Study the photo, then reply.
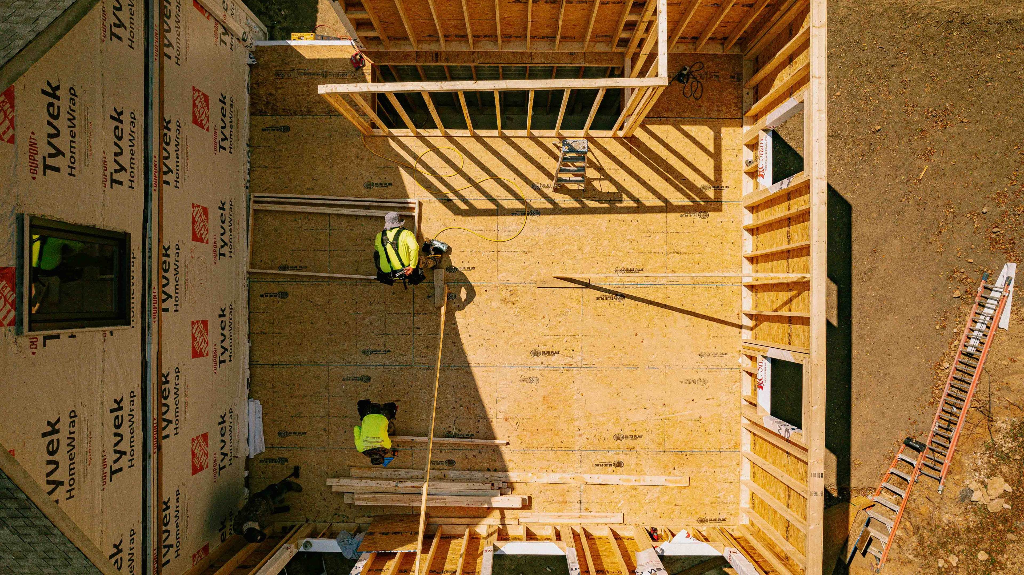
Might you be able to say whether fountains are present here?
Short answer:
No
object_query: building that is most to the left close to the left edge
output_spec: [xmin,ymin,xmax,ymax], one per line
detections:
[0,0,275,575]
